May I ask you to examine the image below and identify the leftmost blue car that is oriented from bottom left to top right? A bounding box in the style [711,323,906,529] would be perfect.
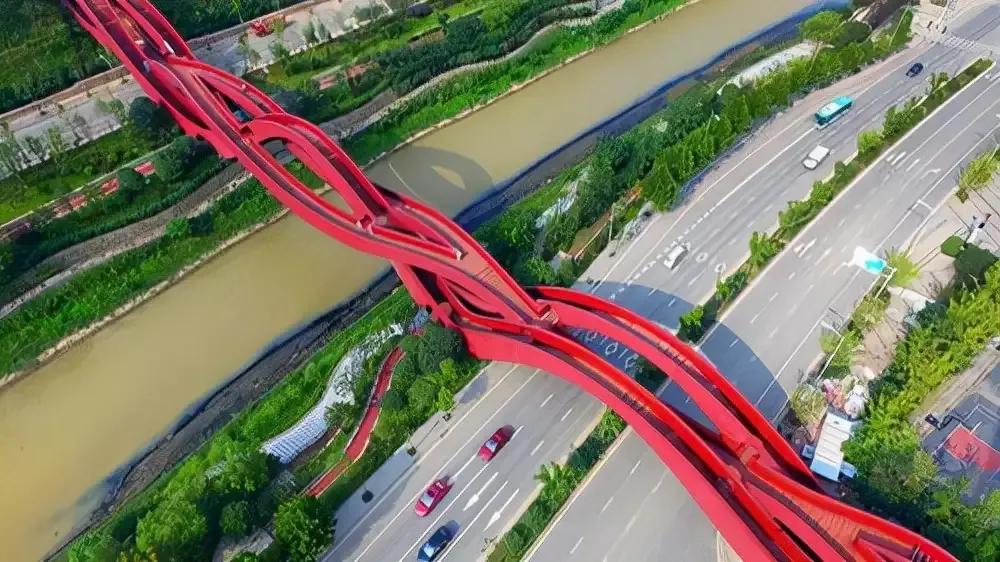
[414,518,457,562]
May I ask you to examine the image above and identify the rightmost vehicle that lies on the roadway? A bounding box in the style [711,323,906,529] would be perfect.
[903,61,927,78]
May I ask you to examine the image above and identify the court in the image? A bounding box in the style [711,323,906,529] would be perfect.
[915,371,1000,490]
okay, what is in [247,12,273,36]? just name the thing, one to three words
work vehicle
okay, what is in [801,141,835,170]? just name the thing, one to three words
van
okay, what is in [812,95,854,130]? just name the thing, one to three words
bus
